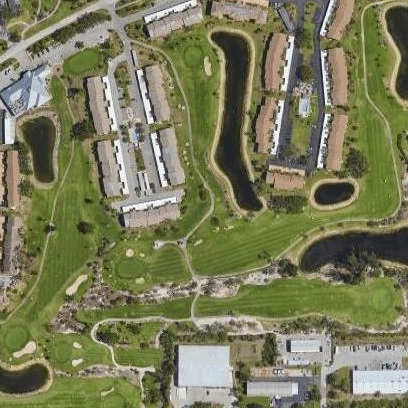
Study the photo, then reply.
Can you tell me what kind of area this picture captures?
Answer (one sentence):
This image shows a golf course.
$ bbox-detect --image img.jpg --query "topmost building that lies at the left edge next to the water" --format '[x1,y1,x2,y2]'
[0,63,54,115]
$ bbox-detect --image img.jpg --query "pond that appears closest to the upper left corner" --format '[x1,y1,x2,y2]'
[22,115,57,181]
